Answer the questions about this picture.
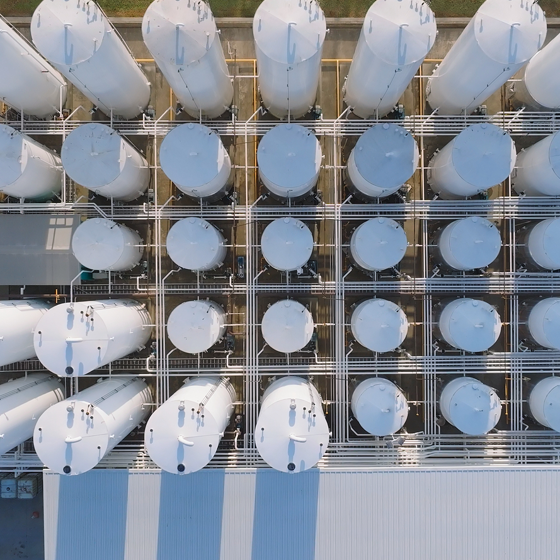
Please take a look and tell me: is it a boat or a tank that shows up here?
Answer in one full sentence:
Visible in the photo is a tank.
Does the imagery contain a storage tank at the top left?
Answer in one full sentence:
Yes, there is a storage tank at the top left.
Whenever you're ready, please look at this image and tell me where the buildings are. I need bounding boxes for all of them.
[0,214,88,292]
[42,466,560,560]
